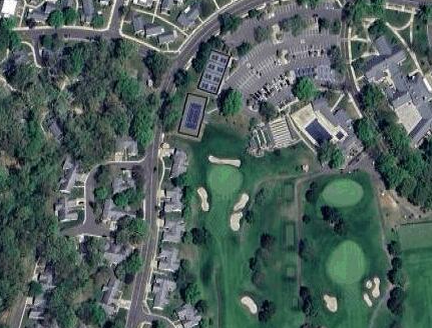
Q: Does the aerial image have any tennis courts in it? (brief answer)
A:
Yes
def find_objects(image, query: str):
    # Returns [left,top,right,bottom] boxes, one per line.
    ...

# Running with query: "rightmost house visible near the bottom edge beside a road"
[178,307,205,328]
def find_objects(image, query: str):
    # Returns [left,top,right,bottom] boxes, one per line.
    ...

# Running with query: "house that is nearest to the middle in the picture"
[169,148,191,181]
